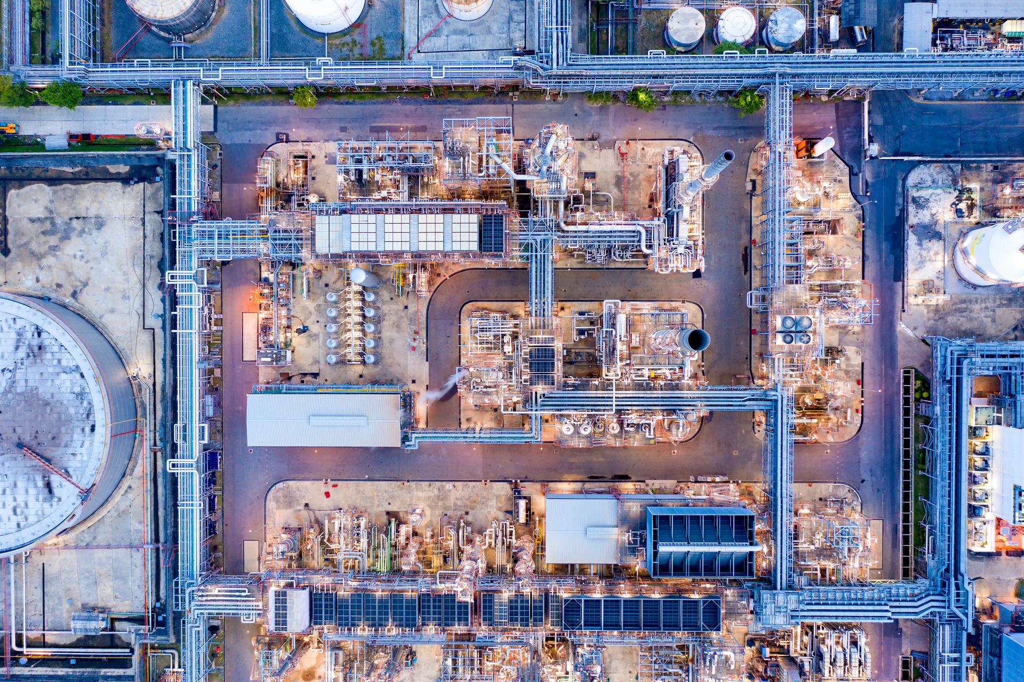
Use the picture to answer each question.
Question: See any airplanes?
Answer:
No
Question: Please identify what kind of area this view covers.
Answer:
industrial area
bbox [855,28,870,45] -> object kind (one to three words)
vehicle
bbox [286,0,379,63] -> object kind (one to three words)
storage tank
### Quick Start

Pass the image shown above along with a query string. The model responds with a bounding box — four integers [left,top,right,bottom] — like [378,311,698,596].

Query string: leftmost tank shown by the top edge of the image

[116,0,227,63]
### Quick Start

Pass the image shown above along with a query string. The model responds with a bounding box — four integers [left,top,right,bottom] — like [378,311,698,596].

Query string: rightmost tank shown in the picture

[948,217,1024,294]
